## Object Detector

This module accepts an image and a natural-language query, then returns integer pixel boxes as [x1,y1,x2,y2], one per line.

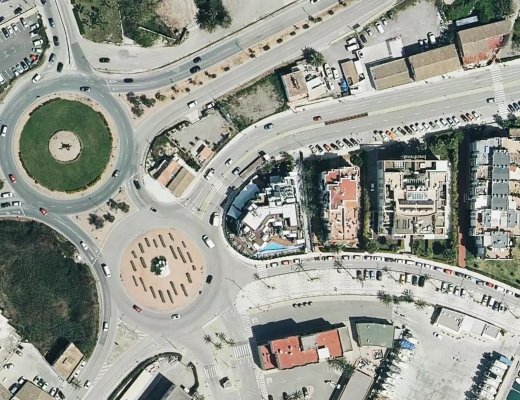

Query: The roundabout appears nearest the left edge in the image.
[0,76,136,216]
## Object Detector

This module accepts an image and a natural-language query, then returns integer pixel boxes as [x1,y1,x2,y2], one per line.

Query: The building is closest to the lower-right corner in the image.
[436,309,501,339]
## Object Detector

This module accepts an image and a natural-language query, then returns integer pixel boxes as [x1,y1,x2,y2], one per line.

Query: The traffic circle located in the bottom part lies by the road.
[97,205,227,335]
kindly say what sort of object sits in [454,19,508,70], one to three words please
shed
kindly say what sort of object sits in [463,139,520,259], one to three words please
building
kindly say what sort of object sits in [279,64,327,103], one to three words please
house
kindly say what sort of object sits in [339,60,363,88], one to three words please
building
